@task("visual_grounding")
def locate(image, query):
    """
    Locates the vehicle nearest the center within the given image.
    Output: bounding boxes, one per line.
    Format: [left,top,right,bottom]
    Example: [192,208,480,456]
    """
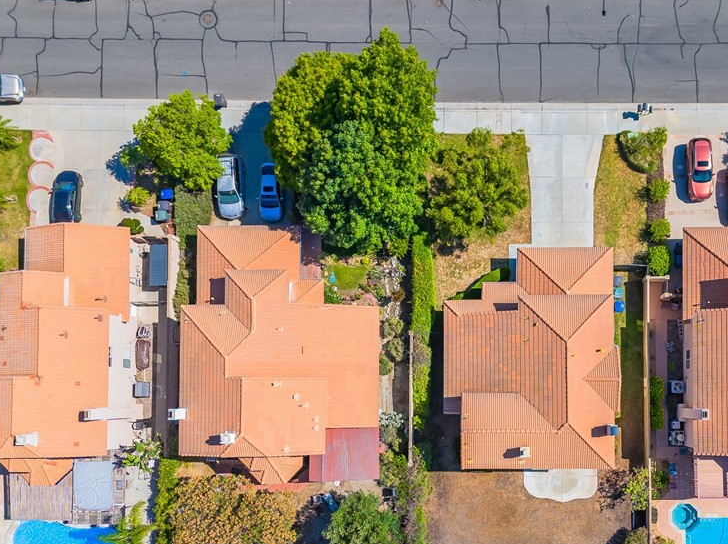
[254,164,286,225]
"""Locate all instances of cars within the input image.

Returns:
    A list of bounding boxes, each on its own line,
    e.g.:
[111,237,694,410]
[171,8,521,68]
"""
[0,72,31,107]
[48,171,87,225]
[213,153,247,220]
[683,139,715,204]
[254,164,286,225]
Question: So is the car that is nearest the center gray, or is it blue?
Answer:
blue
